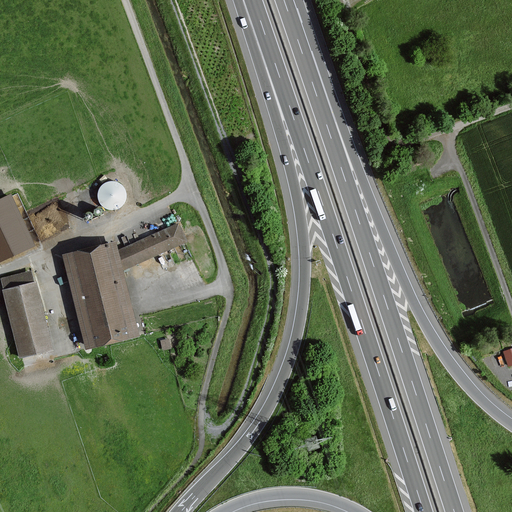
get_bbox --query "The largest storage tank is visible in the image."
[97,180,126,210]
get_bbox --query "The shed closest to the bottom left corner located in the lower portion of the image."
[2,282,52,358]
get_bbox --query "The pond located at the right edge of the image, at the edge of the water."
[424,196,491,316]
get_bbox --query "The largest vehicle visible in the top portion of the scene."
[309,188,326,220]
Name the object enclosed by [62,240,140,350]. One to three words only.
barn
